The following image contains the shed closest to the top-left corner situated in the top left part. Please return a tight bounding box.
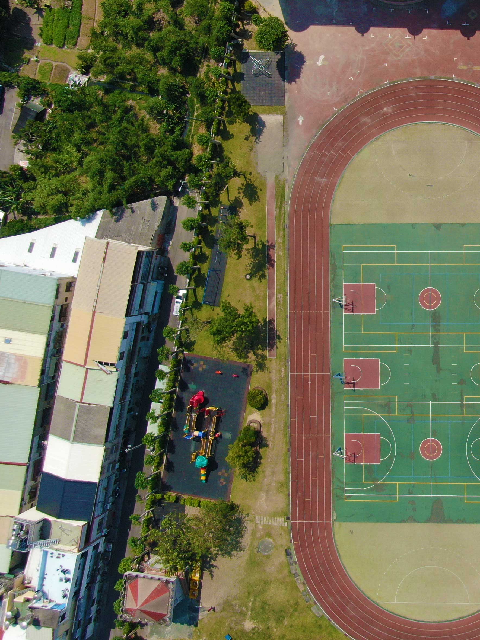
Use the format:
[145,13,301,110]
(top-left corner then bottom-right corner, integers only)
[13,102,50,139]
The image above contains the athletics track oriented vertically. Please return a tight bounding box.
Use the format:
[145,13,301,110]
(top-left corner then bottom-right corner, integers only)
[289,81,480,640]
